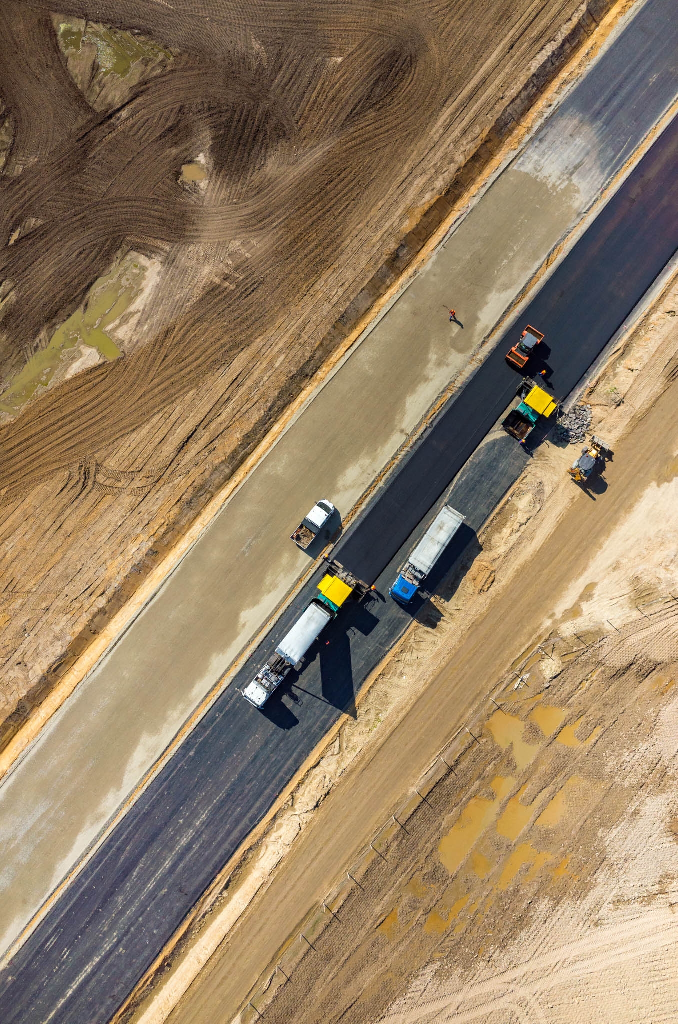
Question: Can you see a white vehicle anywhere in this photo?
Yes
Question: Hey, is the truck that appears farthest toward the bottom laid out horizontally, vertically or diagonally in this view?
diagonally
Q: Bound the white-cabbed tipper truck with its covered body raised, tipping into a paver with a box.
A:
[239,600,334,710]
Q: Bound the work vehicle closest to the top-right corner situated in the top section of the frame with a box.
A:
[505,325,544,368]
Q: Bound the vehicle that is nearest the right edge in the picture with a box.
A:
[560,436,606,481]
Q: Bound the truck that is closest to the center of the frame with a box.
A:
[291,499,333,549]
